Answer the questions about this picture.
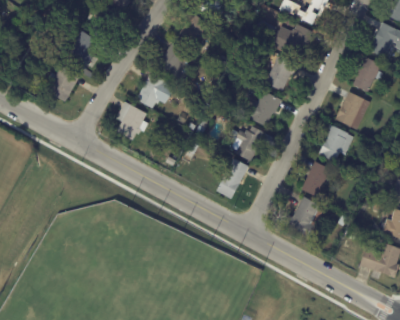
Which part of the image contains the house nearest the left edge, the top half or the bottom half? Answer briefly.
top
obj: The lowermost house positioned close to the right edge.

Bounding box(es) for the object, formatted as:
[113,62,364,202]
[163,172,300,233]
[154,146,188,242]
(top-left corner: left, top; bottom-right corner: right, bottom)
[361,245,400,279]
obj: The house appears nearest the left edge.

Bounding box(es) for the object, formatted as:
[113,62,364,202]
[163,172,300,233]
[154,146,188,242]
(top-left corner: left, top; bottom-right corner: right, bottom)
[54,69,78,100]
